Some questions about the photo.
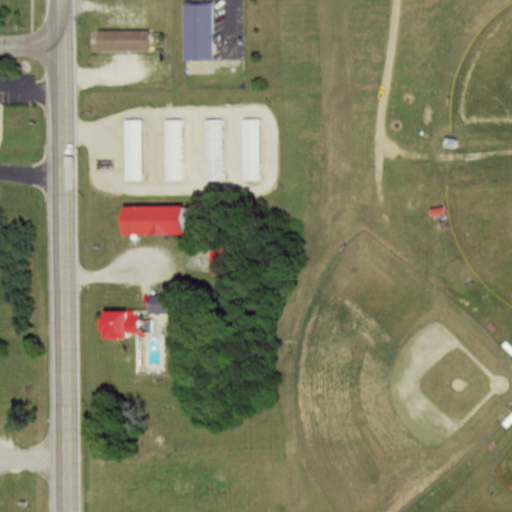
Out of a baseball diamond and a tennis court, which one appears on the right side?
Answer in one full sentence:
There is a baseball diamond on the right side.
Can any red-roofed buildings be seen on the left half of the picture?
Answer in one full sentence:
Yes, a red-roofed building shows up on the left half of the picture.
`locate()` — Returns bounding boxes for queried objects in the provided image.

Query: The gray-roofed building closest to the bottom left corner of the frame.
[148,294,166,314]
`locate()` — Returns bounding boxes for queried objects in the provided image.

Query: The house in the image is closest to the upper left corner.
[90,30,154,53]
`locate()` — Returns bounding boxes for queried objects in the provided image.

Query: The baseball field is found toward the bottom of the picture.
[296,230,512,512]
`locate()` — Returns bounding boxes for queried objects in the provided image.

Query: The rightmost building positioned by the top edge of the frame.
[183,2,216,61]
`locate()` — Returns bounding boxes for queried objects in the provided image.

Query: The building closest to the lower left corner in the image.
[98,310,146,340]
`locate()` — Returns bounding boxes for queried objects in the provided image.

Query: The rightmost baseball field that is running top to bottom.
[447,2,512,305]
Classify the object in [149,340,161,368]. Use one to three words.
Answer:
swimming pool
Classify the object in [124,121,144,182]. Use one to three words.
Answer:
building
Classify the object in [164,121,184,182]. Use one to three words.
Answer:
building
